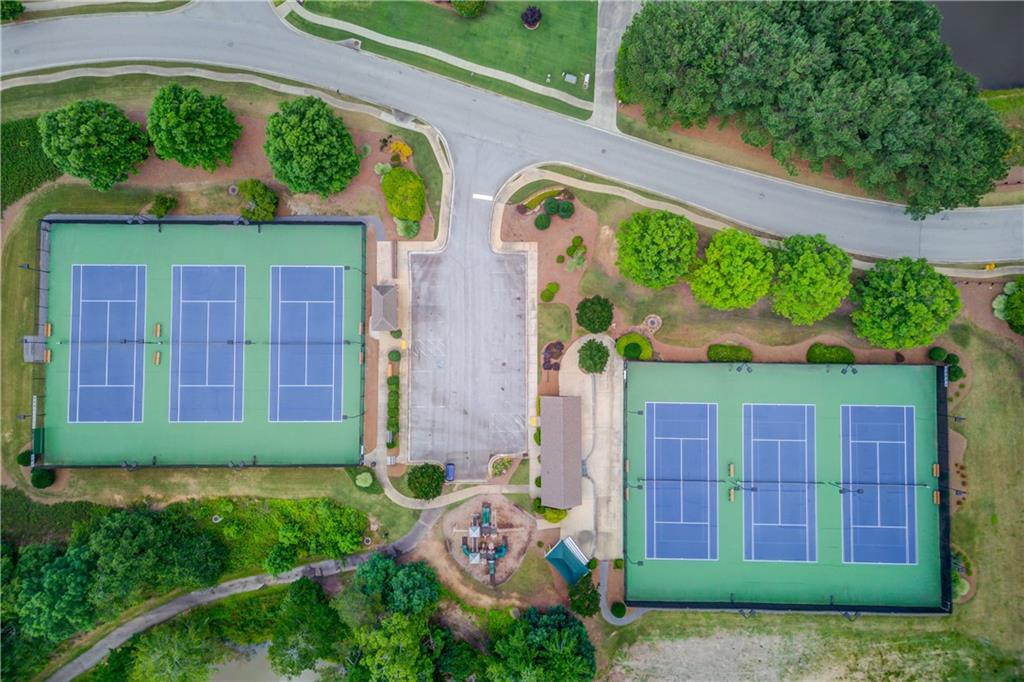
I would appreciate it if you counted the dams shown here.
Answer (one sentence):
No dams are visible.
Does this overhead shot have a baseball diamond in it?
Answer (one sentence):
No, there's no baseball diamond here.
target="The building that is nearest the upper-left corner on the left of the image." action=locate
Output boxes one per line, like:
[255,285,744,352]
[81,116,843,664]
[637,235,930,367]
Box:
[371,285,399,330]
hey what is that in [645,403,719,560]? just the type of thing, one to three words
tennis court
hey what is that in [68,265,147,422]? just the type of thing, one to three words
tennis court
